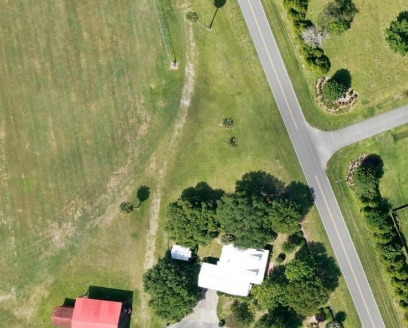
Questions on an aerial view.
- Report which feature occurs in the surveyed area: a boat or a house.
house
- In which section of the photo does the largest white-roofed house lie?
bottom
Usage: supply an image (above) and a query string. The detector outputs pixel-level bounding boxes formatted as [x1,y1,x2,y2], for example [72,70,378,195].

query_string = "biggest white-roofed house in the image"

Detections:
[200,245,270,297]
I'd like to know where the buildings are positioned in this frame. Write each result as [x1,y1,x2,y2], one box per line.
[200,245,270,297]
[71,297,128,328]
[171,245,193,261]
